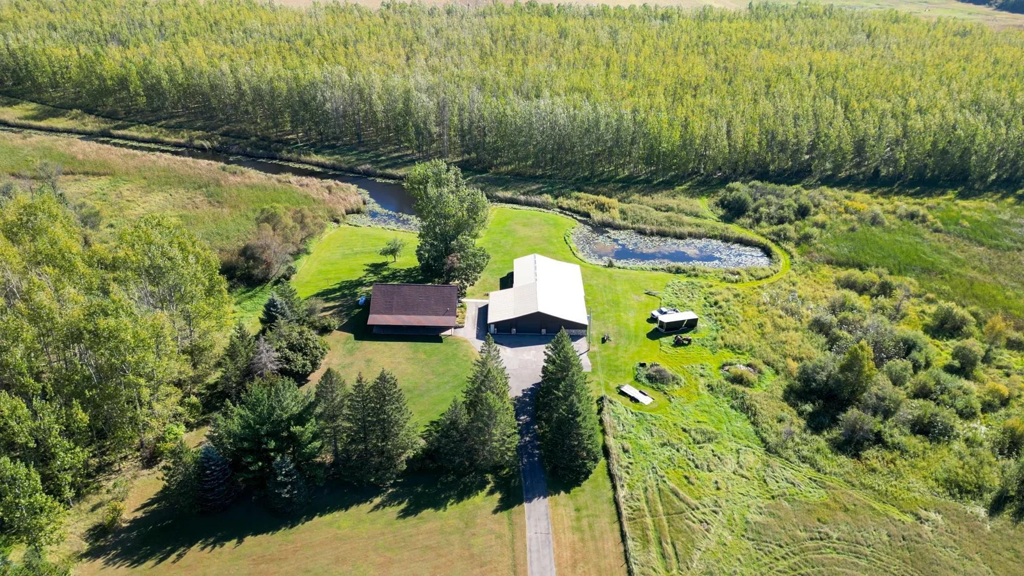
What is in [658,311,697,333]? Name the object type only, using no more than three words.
trailer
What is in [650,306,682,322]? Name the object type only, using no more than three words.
vehicle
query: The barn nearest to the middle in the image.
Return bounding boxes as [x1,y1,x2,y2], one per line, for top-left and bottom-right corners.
[488,253,589,336]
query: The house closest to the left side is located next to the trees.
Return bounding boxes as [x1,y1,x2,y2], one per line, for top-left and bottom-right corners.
[366,282,460,335]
